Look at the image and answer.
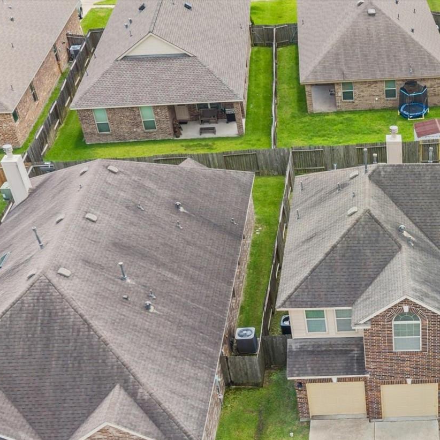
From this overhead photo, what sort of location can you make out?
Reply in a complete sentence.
The picture captures a residential area.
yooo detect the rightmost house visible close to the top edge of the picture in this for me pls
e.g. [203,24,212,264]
[298,0,440,112]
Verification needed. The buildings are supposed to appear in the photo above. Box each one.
[298,0,440,112]
[275,125,440,422]
[414,111,440,145]
[0,0,77,148]
[0,148,257,440]
[66,0,254,143]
